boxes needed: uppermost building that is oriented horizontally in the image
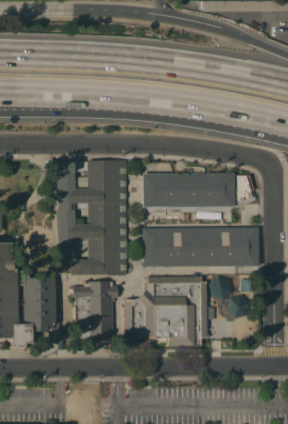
[144,173,238,211]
